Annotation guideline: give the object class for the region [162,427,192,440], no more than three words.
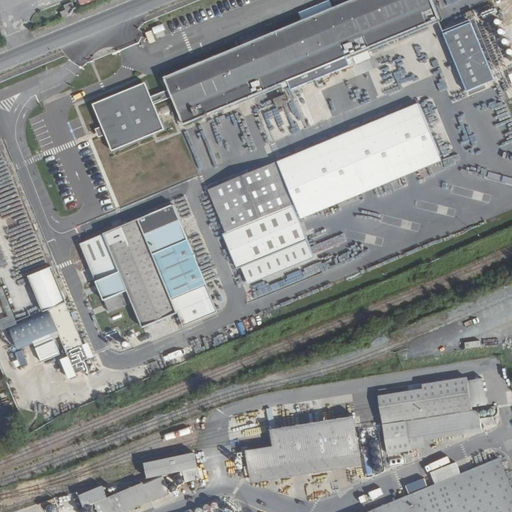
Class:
rail car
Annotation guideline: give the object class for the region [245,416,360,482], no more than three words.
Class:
building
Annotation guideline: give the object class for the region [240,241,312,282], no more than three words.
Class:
building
